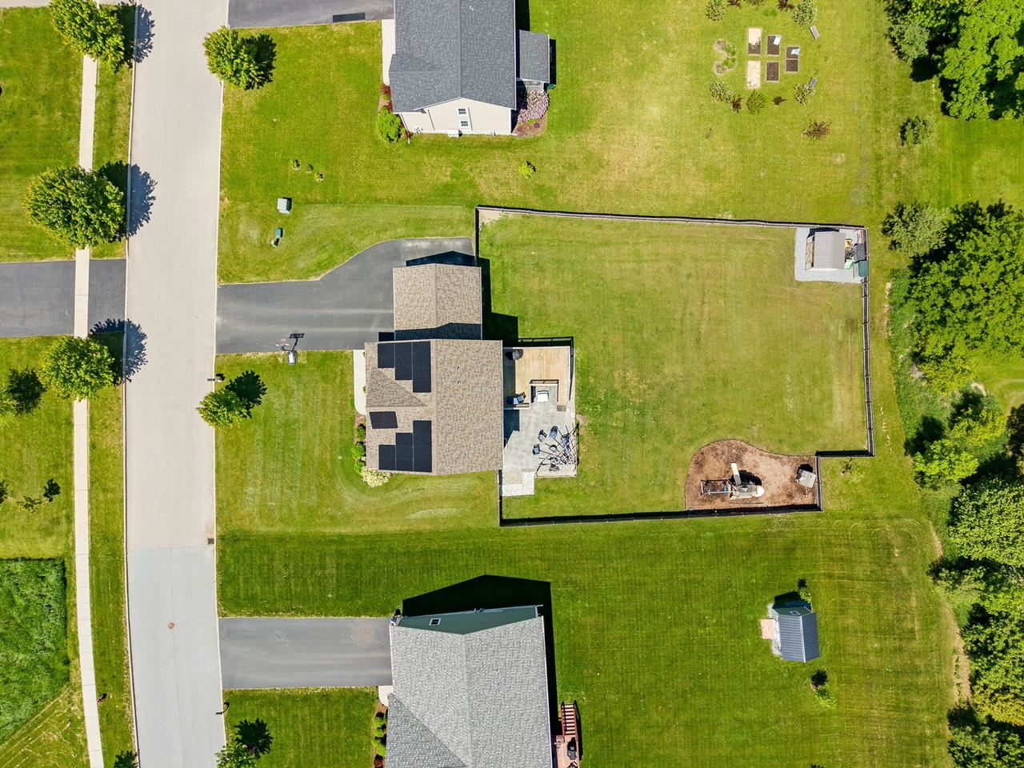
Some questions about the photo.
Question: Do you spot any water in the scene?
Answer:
No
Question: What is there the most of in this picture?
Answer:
grass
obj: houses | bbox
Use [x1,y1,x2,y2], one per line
[385,605,553,768]
[361,263,504,477]
[388,0,550,137]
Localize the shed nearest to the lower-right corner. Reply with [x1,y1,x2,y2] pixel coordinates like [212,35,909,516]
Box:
[772,605,819,664]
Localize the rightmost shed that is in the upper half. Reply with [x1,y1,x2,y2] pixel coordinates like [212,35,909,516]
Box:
[803,232,844,271]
